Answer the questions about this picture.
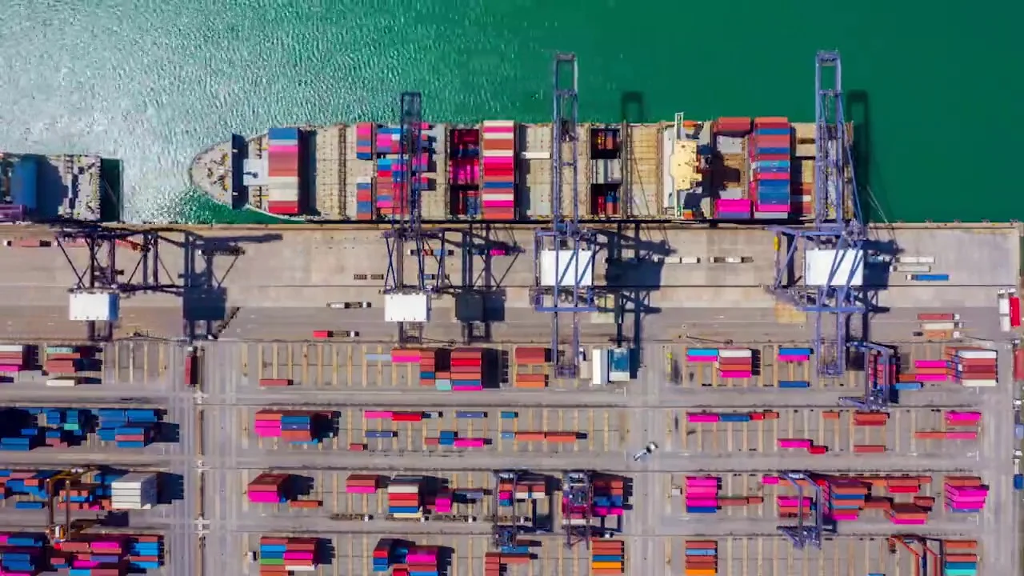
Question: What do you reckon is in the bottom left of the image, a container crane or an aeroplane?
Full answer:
The feature located in the bottom left of the image is a container crane.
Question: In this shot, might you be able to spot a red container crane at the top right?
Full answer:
No, there's no red container crane to be seen at the top right.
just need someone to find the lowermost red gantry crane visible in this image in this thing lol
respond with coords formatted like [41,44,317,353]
[886,533,940,576]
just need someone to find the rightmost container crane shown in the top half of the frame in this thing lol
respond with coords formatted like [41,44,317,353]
[753,50,870,376]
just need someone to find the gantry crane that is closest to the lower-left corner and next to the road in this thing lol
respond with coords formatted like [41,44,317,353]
[47,462,102,546]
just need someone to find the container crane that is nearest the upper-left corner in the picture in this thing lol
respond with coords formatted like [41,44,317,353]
[0,210,176,339]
